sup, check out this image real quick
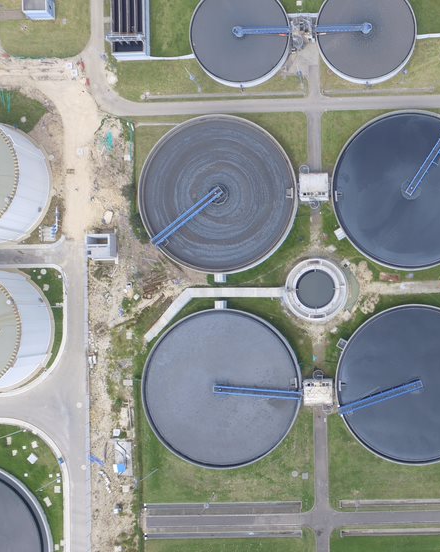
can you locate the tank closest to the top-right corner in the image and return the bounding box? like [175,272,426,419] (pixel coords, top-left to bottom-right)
[315,0,418,85]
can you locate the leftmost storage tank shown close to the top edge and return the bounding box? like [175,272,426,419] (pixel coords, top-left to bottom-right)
[188,0,292,88]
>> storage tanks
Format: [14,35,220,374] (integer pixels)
[137,113,299,274]
[336,305,440,465]
[188,0,292,88]
[0,268,55,388]
[285,258,347,320]
[0,125,54,245]
[331,110,440,270]
[0,468,54,552]
[141,308,302,468]
[315,0,418,85]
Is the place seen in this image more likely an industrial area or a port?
industrial area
